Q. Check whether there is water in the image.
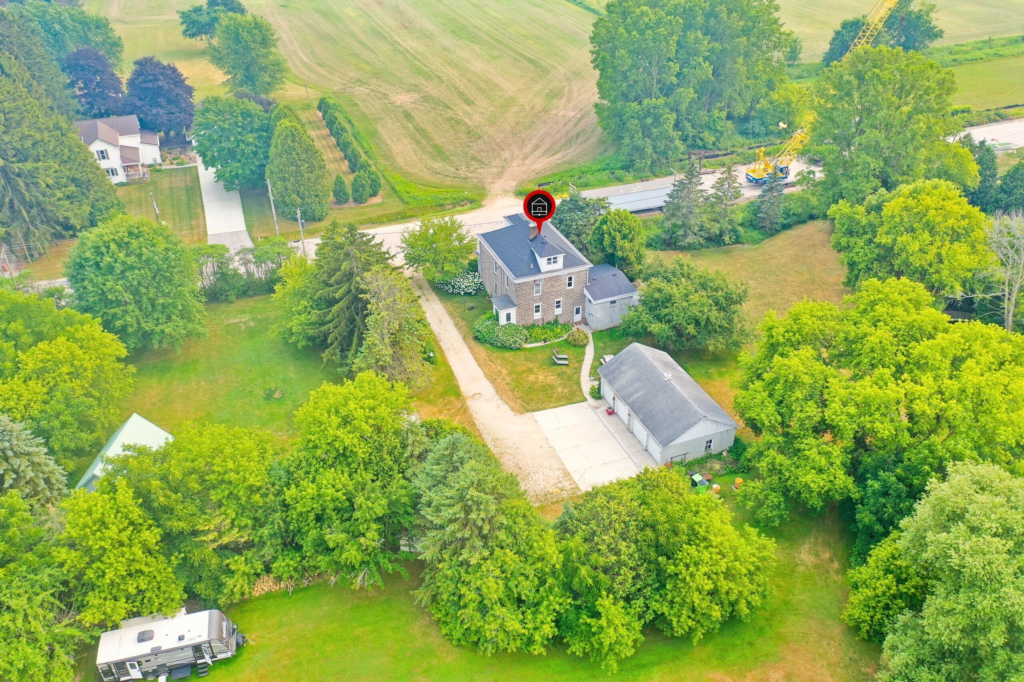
No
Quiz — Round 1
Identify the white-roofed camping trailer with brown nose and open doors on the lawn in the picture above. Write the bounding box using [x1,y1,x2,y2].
[96,607,253,682]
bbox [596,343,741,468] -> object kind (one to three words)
building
